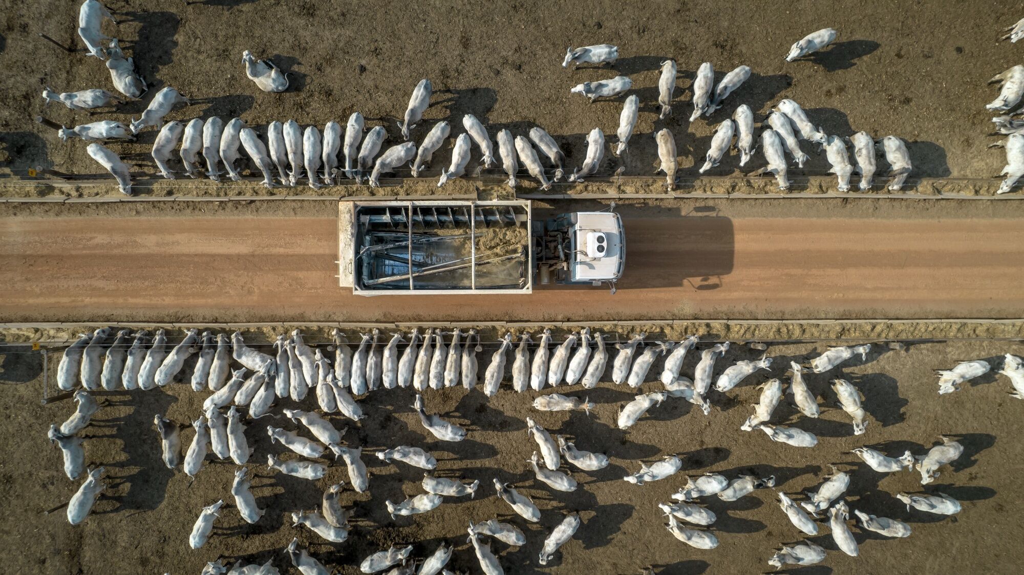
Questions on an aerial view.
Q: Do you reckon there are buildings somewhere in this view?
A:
No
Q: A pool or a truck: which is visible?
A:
truck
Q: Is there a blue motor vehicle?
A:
No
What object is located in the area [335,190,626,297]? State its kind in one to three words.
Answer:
truck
